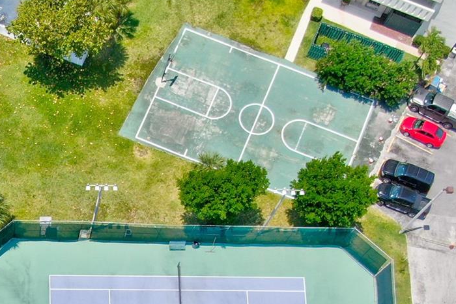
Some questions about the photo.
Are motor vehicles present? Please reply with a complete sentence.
Yes, I can see a motor vehicle in this picture.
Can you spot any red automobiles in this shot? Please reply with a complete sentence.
Yes, the image includes a red automobile.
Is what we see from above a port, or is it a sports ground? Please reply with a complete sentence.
It's a sports ground.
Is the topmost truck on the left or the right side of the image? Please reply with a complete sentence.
You can find the topmost truck on the right side of the picture.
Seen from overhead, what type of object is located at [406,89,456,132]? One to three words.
truck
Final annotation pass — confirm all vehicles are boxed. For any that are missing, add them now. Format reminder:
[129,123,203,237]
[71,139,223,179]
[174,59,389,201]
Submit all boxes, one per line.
[401,118,449,151]
[376,186,437,224]
[380,162,438,201]
[406,89,456,132]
